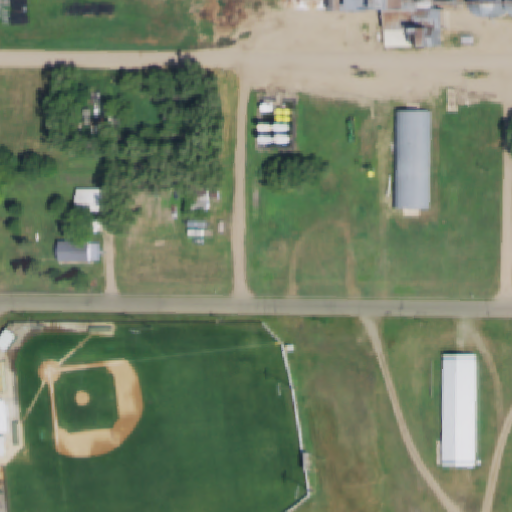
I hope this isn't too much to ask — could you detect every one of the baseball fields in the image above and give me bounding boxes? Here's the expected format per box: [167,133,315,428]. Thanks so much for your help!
[6,322,306,512]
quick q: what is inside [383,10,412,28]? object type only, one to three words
barn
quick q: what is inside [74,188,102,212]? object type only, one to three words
house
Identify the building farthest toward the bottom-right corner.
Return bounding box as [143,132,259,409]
[442,354,475,466]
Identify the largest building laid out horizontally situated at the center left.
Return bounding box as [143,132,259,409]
[56,242,104,264]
